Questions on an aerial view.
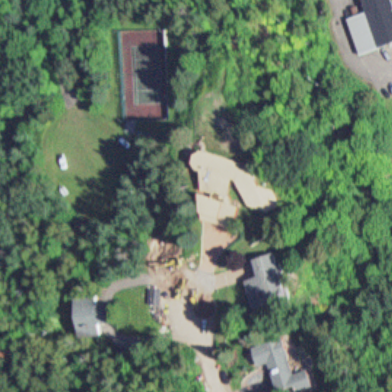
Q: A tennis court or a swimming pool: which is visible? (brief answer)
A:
tennis court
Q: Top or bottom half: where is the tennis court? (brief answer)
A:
top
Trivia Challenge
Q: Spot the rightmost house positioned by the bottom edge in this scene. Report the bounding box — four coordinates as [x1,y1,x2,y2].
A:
[250,340,310,392]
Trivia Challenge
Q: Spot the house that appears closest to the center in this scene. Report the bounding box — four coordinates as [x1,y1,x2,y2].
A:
[190,150,276,222]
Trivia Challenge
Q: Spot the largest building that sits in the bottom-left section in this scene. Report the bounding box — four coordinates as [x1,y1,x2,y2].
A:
[72,294,102,337]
